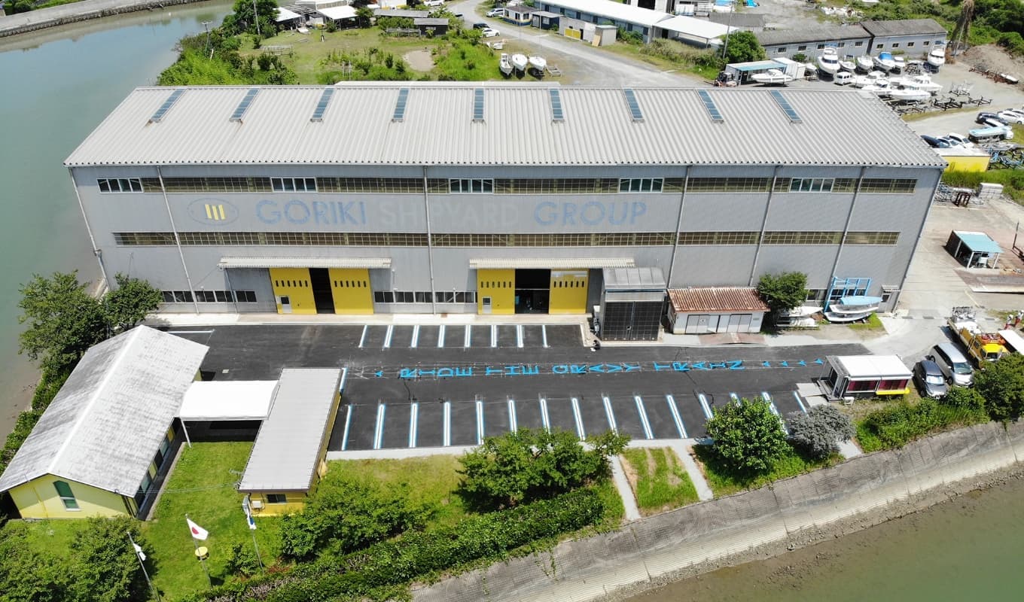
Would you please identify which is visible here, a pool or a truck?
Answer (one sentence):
This aerial view contains a truck.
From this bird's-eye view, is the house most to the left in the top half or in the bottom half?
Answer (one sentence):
You can find the house most to the left in the bottom half.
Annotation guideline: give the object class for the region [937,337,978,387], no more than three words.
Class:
vehicle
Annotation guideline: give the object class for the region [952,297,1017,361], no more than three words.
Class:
truck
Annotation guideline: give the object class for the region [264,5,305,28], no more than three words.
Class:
building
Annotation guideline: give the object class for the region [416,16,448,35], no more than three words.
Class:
shed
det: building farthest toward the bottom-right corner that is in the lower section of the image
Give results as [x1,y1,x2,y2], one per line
[812,354,916,404]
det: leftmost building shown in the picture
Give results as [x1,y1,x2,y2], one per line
[0,328,219,525]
